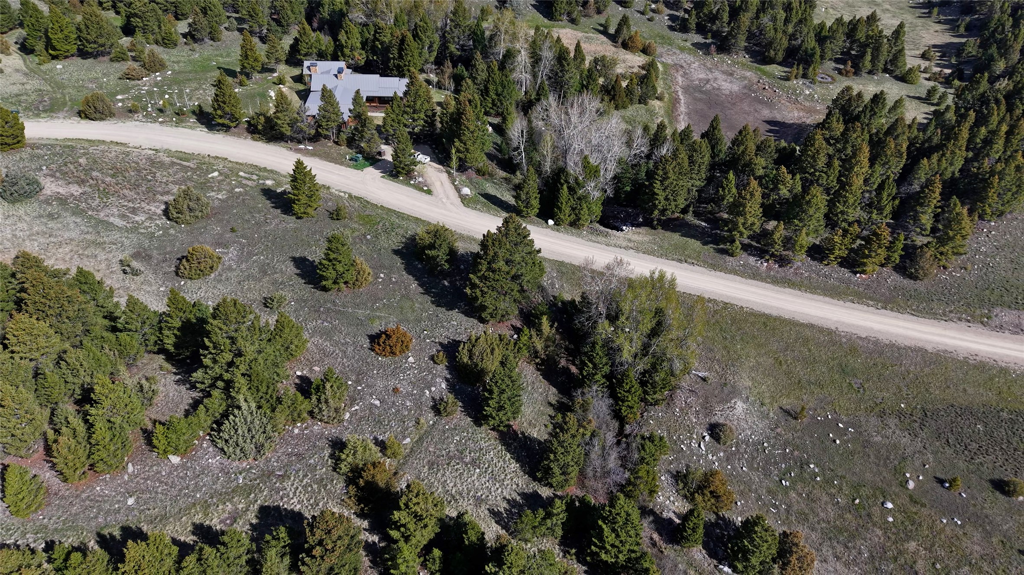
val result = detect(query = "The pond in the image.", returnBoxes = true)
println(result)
[654,45,822,146]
